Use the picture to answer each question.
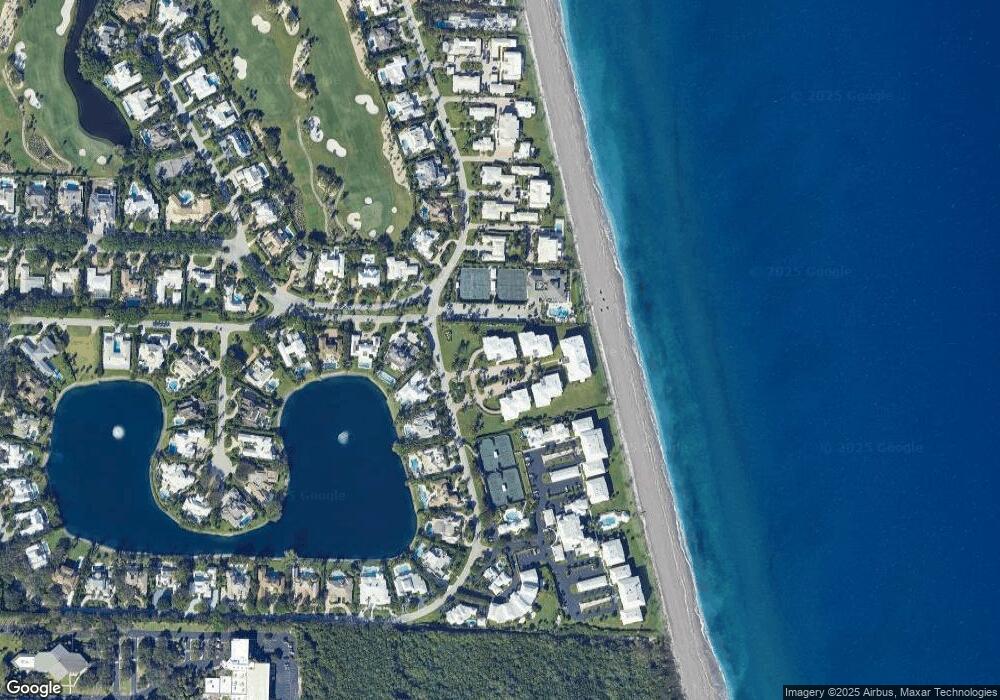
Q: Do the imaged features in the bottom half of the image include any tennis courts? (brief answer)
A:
Yes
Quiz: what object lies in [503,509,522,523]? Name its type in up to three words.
swimming pool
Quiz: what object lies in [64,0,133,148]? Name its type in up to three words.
pond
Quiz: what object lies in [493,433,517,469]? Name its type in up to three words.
tennis court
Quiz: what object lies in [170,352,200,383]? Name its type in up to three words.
house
